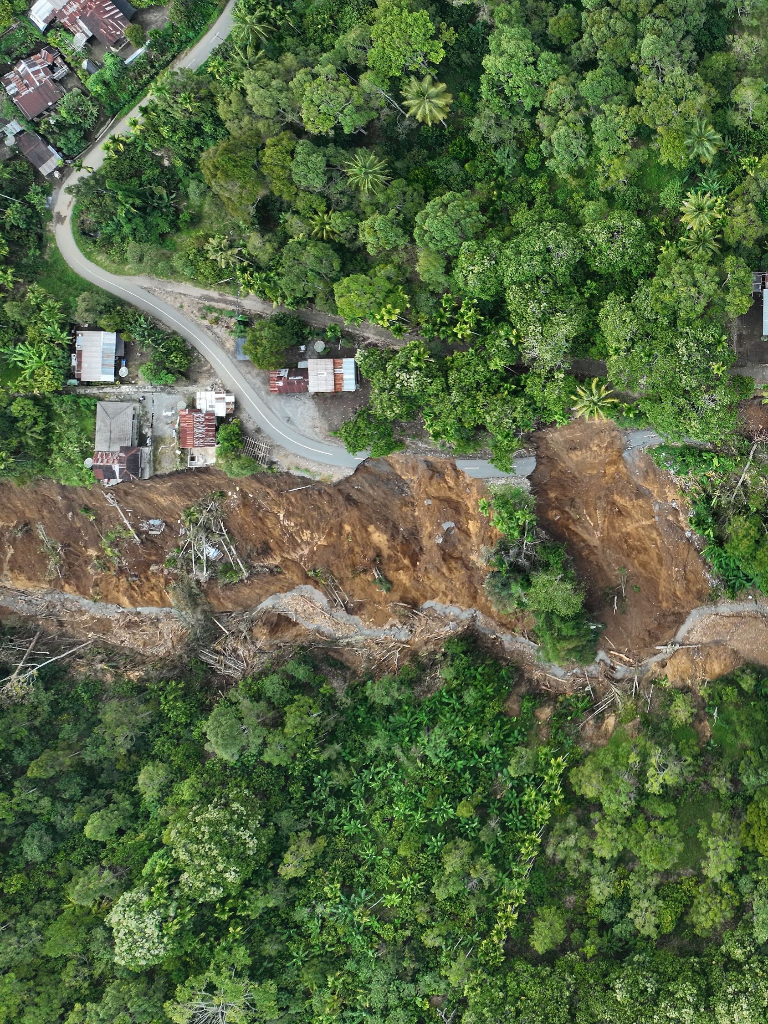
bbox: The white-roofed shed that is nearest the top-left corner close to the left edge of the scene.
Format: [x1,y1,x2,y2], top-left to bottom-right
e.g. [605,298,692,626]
[30,0,68,30]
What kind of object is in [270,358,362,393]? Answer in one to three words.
house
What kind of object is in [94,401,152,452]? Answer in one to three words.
house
